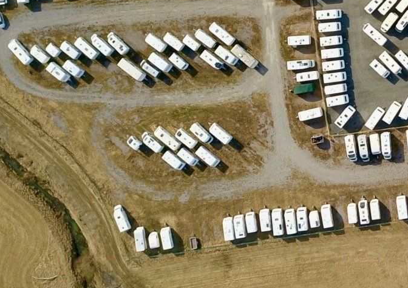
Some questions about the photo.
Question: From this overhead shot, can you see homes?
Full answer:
No, the photo shows no home.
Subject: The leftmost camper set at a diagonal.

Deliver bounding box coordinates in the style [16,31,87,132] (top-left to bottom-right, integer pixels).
[9,38,34,64]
